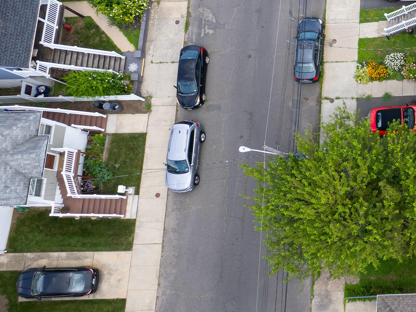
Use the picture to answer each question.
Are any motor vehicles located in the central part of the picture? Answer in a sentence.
Yes, in the central part of the picture there is a motor vehicle.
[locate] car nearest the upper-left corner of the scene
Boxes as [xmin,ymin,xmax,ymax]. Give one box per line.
[173,46,213,113]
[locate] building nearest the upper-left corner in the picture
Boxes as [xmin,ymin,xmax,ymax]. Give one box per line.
[0,0,127,94]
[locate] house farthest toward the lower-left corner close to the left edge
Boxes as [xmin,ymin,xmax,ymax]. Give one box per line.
[0,105,126,253]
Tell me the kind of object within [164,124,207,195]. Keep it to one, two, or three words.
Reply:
car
